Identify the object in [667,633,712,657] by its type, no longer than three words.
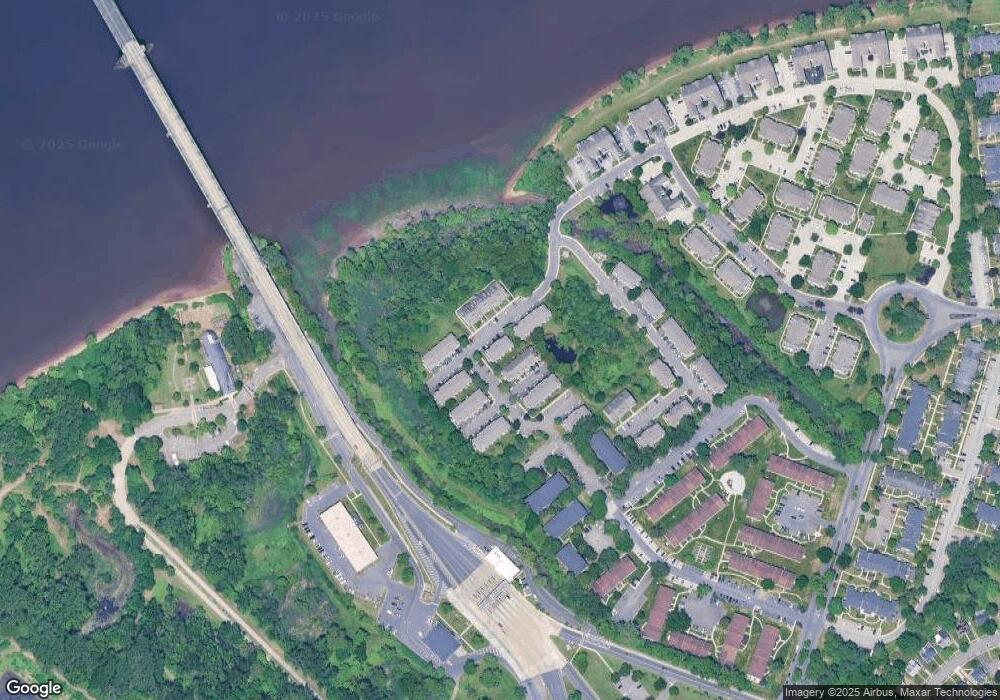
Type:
building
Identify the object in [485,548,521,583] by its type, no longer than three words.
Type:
building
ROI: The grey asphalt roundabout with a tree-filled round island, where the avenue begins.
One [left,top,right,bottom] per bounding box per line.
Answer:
[865,282,938,355]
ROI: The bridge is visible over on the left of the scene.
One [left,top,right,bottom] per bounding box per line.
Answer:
[93,0,381,471]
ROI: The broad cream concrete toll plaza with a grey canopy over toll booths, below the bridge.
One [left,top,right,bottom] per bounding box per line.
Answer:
[447,558,566,681]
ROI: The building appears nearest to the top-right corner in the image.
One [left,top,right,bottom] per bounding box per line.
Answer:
[906,22,944,62]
